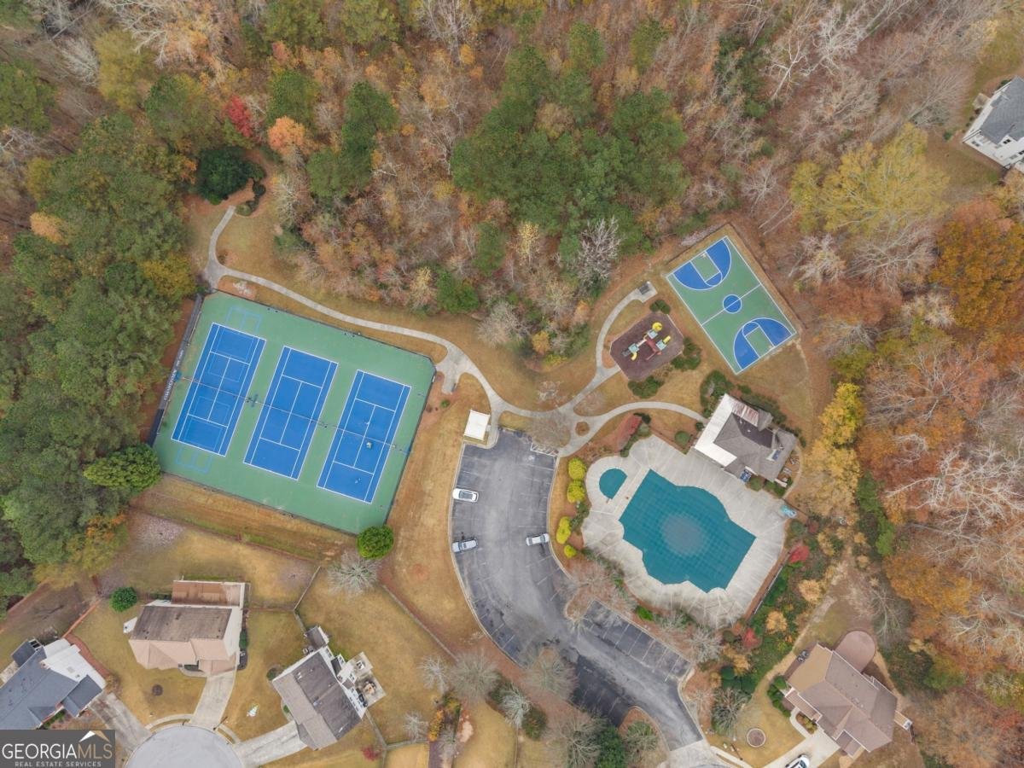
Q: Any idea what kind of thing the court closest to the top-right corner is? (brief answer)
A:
basketball court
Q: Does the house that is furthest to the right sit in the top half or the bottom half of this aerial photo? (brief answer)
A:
top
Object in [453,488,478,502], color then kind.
white car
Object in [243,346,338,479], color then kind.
blue tennis court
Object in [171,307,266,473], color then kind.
blue tennis court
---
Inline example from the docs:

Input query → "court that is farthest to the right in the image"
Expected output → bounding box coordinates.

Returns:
[665,234,798,376]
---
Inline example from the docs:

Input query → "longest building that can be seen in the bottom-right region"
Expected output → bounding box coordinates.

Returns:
[782,643,917,758]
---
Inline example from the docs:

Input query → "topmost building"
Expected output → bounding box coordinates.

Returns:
[964,77,1024,173]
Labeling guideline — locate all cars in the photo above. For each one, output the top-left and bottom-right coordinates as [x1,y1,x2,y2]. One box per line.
[452,538,478,552]
[453,488,478,502]
[786,754,812,768]
[525,533,550,546]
